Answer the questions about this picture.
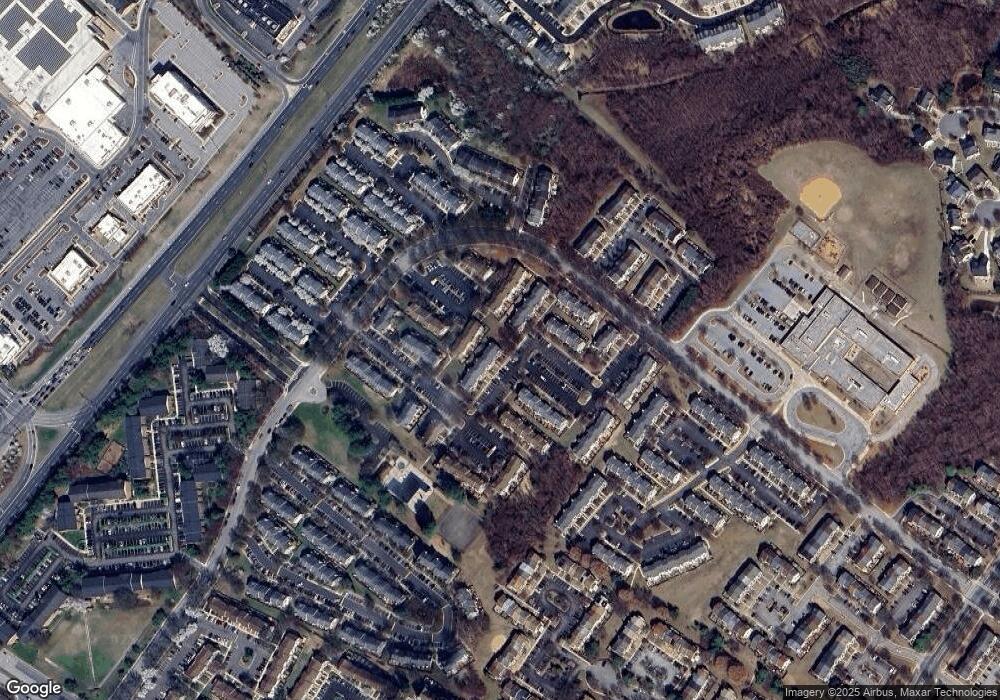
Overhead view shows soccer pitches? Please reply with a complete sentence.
No, there's no soccer pitch here.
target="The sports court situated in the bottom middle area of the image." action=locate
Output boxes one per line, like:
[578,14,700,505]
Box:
[440,503,480,551]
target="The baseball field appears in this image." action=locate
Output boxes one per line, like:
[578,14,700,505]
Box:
[799,177,842,222]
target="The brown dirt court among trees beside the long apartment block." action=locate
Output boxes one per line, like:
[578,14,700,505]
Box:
[97,439,125,472]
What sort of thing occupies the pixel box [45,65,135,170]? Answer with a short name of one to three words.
building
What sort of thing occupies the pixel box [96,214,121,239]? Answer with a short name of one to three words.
building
